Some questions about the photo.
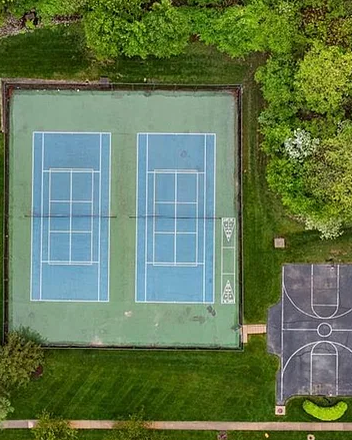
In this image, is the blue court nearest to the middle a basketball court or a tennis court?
tennis court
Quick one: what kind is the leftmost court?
tennis court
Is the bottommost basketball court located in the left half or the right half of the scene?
right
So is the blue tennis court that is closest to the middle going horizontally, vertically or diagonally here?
vertically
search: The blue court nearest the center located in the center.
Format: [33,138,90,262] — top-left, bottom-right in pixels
[136,134,222,303]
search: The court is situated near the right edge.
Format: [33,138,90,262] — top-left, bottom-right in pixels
[282,265,352,401]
